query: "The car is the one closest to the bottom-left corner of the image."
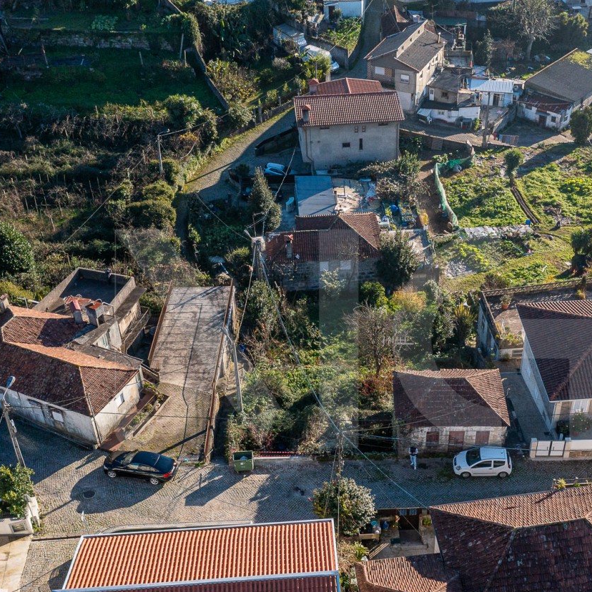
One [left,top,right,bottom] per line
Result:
[98,443,179,482]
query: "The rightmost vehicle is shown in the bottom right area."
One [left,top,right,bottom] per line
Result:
[454,443,514,476]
